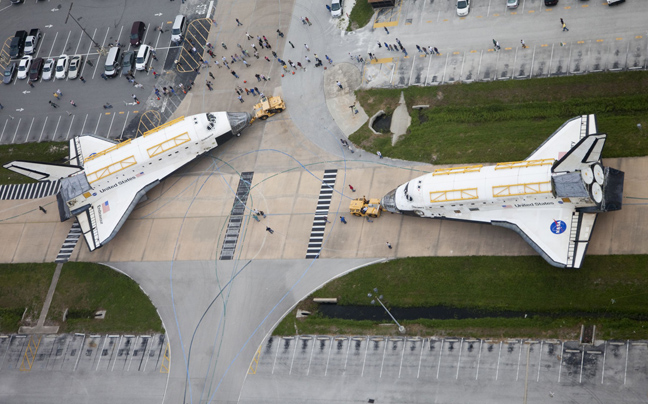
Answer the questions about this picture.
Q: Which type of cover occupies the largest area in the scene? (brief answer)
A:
paved ground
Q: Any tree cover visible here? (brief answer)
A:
No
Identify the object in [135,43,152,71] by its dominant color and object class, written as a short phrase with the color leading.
white car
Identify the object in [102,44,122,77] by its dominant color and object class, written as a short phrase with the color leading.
white vehicle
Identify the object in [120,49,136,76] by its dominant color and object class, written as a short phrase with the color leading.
gray car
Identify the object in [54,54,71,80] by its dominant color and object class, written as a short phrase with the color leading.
white car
